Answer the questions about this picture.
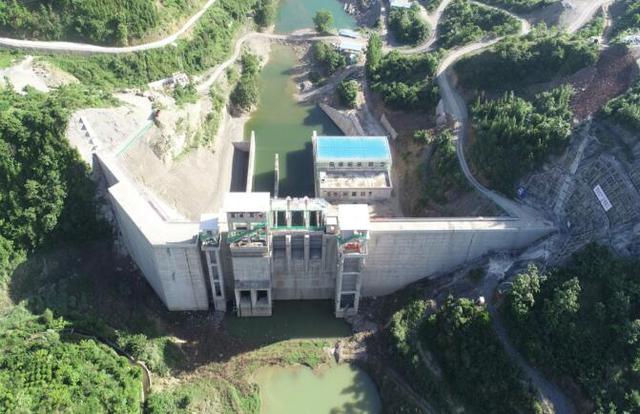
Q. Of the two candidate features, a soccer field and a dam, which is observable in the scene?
dam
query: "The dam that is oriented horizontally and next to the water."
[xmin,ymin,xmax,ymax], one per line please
[96,148,543,313]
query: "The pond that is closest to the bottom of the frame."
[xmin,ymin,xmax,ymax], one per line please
[251,360,382,414]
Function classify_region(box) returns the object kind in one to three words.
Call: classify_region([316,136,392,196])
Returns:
building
